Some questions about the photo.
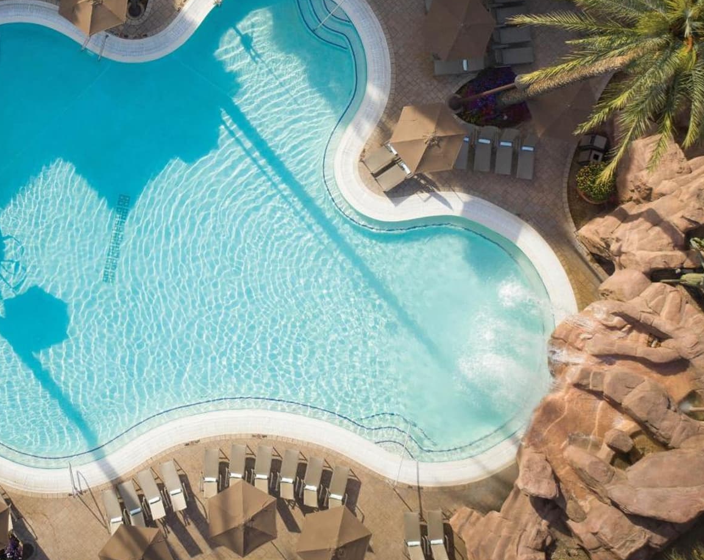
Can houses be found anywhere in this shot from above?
No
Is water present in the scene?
Yes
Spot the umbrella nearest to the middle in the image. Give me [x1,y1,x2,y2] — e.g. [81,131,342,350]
[385,102,466,175]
